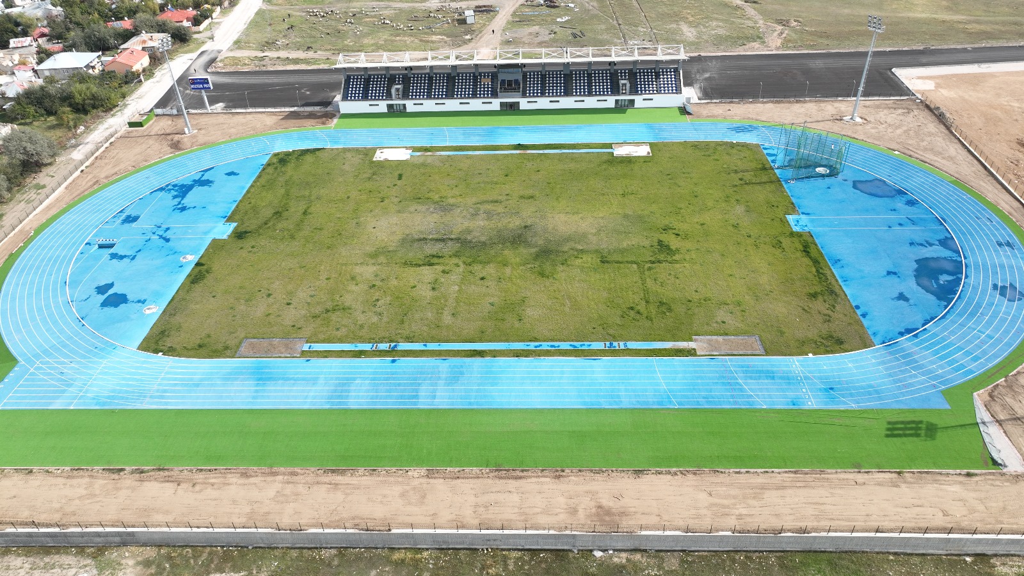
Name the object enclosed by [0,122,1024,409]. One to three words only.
running track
